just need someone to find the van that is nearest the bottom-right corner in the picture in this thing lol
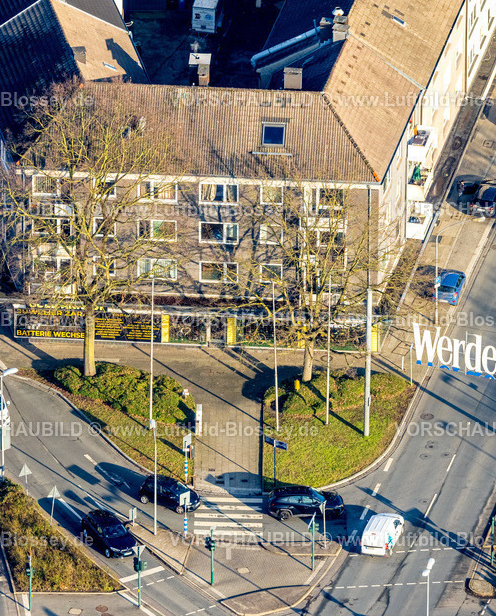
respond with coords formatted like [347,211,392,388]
[357,507,406,558]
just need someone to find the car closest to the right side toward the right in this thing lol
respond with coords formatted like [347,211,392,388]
[468,172,496,214]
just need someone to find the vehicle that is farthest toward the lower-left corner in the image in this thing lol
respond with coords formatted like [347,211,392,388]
[76,499,139,556]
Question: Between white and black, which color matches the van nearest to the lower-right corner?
white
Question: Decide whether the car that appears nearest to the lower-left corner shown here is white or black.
black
